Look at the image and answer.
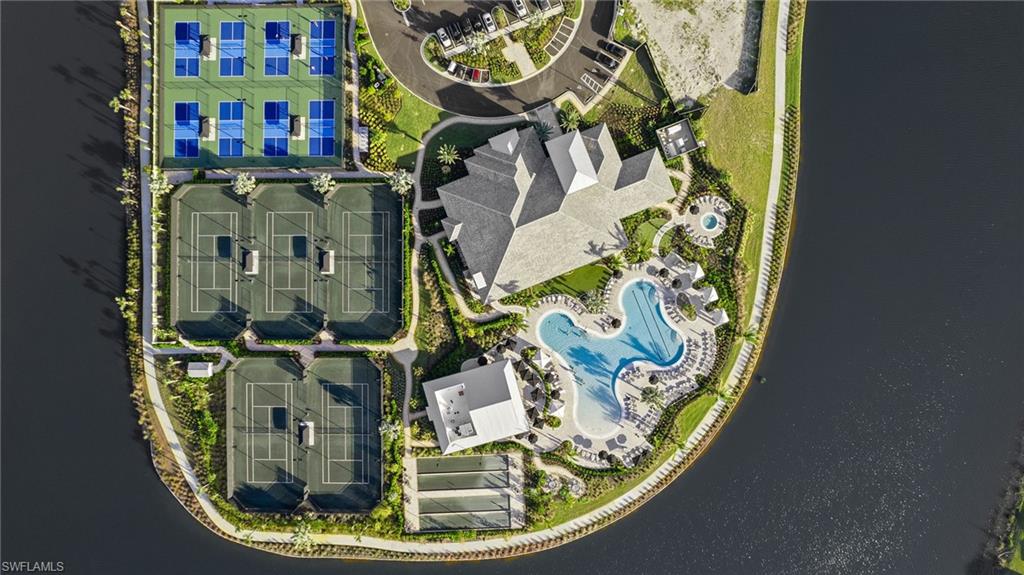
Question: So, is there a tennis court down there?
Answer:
Yes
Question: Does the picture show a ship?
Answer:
No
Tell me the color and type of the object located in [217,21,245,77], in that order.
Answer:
blue sports court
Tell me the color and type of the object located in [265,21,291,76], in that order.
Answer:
blue sports court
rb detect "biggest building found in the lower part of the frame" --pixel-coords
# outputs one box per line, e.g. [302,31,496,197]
[423,360,529,455]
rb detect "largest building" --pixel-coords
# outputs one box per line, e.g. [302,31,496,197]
[437,122,677,304]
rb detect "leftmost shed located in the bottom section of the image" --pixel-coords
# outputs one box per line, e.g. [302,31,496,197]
[186,362,215,377]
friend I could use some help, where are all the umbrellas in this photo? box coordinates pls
[550,389,561,399]
[528,433,538,443]
[530,388,544,402]
[496,343,506,353]
[477,356,487,366]
[659,268,669,278]
[640,448,651,458]
[607,452,617,463]
[648,374,658,384]
[526,371,540,385]
[613,268,623,279]
[511,357,524,371]
[544,372,554,382]
[505,337,519,351]
[688,205,699,215]
[629,451,643,465]
[598,449,608,459]
[671,278,681,288]
[532,415,546,429]
[525,405,539,419]
[611,318,621,329]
